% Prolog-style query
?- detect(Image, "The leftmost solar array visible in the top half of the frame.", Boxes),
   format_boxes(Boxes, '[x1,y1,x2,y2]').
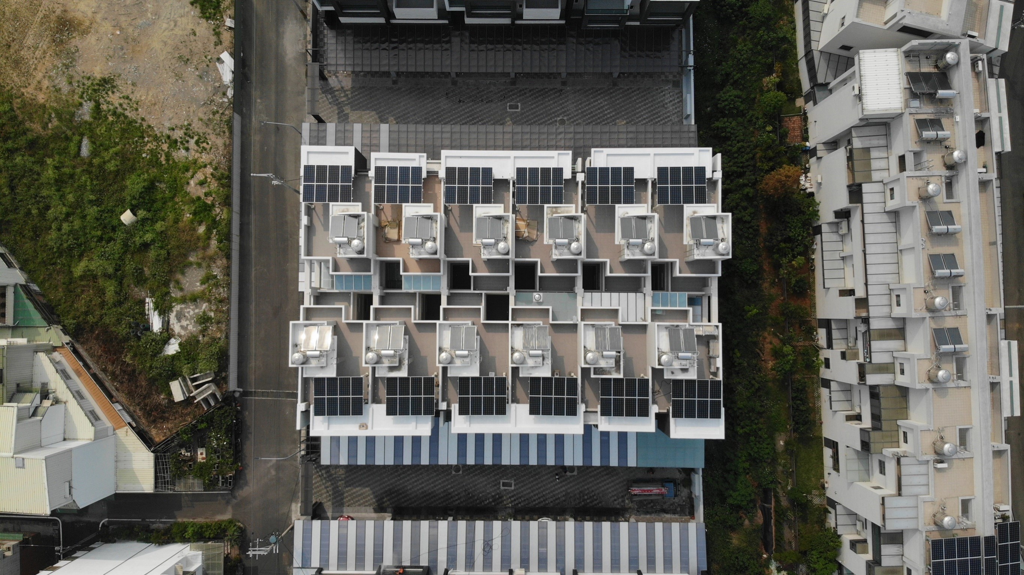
[303,165,357,206]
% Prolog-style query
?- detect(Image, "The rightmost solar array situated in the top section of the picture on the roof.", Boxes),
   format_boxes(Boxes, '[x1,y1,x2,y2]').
[652,167,706,208]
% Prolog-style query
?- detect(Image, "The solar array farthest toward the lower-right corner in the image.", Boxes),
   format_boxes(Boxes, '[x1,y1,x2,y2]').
[919,535,988,575]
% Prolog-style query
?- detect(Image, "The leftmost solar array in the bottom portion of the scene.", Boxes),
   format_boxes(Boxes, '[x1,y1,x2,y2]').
[314,371,369,416]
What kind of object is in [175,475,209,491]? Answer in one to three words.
shed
